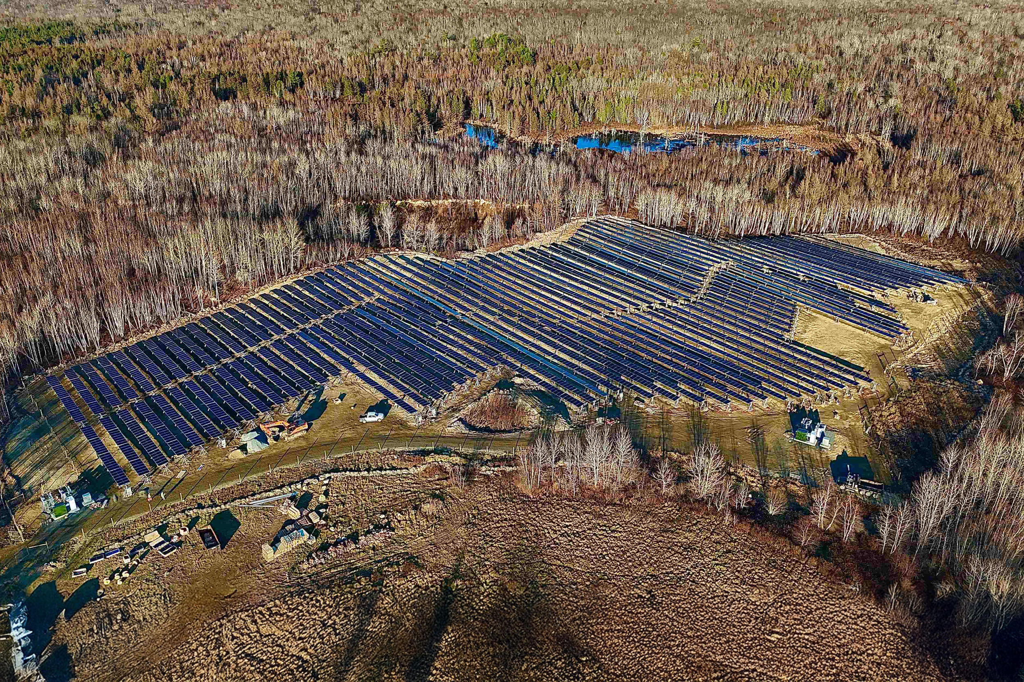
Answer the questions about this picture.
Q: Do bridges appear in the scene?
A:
No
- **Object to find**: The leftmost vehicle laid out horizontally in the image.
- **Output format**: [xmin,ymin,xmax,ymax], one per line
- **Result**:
[263,420,305,443]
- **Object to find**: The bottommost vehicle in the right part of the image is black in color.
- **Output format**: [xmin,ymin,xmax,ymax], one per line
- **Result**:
[835,472,887,499]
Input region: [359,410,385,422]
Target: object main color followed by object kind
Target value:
white vehicle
